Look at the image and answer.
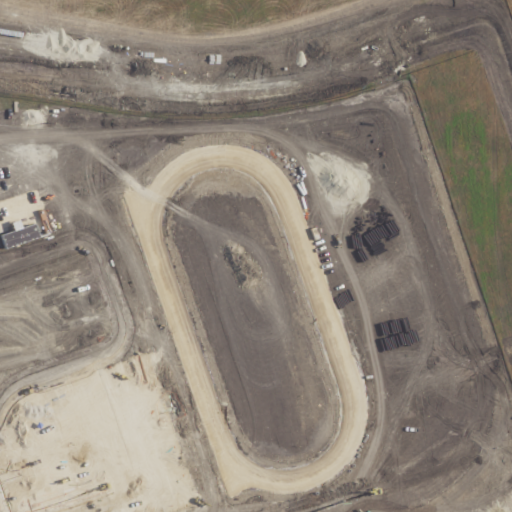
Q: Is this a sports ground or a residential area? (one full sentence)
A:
What you see here is a sports ground.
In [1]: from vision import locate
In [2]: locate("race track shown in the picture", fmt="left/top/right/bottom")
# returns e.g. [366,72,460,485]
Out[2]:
[124,144,368,496]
